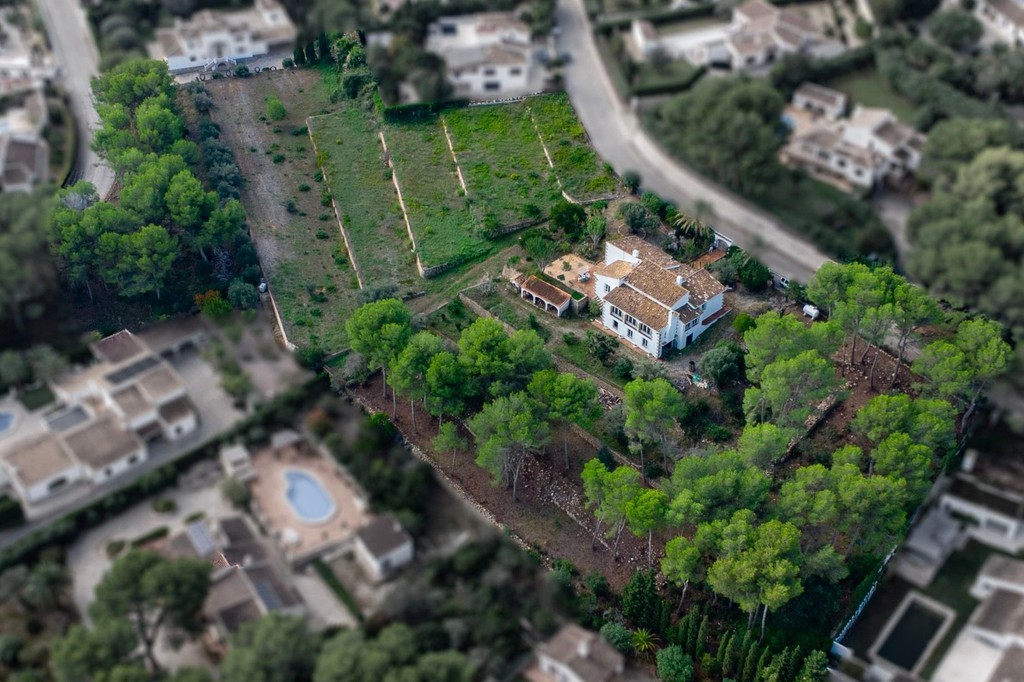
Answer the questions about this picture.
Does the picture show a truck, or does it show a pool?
pool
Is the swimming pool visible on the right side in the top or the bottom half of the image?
bottom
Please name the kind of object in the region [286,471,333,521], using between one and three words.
swimming pool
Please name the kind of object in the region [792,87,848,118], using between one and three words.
building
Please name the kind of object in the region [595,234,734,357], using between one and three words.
house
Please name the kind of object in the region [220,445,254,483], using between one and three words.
house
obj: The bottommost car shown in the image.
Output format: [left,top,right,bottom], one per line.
[773,276,796,288]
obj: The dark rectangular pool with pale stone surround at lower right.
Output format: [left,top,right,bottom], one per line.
[869,591,956,674]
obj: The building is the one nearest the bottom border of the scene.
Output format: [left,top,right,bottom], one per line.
[535,624,626,682]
